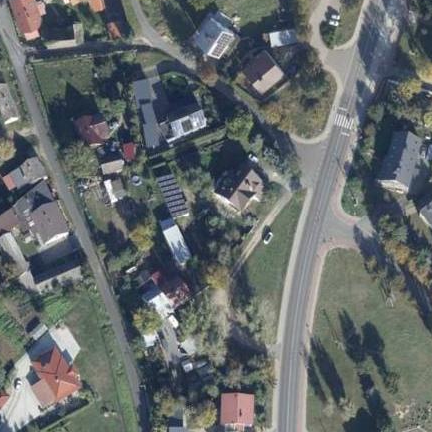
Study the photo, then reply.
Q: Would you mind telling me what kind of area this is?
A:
residential area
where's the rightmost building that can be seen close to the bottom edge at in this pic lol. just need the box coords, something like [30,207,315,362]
[221,392,254,426]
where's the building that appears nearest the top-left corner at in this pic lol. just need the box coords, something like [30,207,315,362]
[11,0,42,41]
